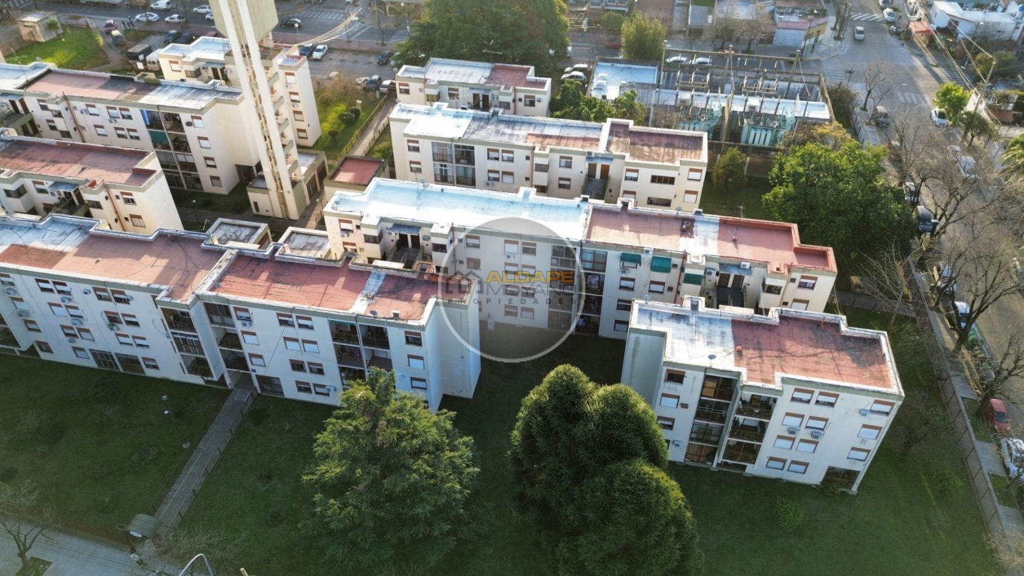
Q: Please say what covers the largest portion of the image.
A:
buildings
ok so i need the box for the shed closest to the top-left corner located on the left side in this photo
[12,8,65,40]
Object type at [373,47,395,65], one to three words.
car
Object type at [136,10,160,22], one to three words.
vehicle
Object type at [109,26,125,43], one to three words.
car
